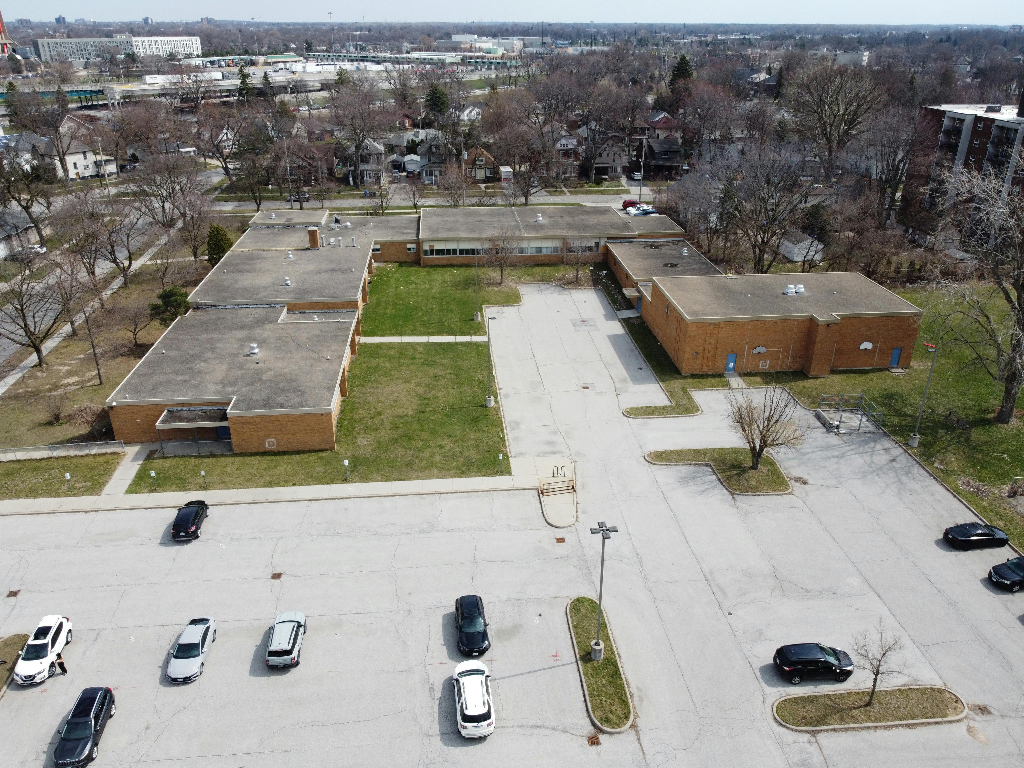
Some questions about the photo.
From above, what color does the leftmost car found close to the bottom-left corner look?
white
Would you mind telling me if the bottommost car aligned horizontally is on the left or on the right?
right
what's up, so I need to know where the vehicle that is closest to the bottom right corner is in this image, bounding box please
[992,561,1024,592]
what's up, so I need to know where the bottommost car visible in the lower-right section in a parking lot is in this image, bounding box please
[771,642,858,684]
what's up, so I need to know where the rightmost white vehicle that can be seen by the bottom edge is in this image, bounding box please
[453,659,495,739]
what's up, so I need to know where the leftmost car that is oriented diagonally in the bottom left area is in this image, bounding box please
[12,617,71,688]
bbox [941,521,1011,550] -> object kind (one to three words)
car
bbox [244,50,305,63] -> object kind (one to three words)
building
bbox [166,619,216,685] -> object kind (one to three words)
car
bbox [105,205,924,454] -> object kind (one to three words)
building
